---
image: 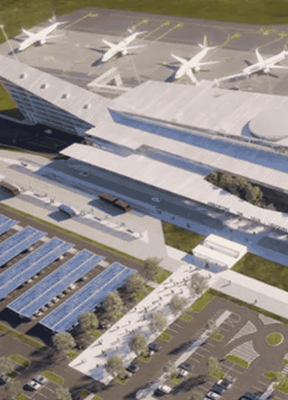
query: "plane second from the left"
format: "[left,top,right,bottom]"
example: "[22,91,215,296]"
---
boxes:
[100,23,147,62]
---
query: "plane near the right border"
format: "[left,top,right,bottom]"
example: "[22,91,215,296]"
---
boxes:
[241,44,288,72]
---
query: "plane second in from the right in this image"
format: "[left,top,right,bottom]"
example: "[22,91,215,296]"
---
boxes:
[173,36,220,78]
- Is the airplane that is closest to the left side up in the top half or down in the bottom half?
top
